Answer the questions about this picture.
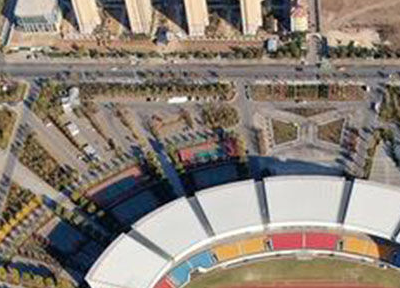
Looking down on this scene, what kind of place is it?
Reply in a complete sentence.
This looks like a sports ground.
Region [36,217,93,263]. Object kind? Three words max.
sports court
